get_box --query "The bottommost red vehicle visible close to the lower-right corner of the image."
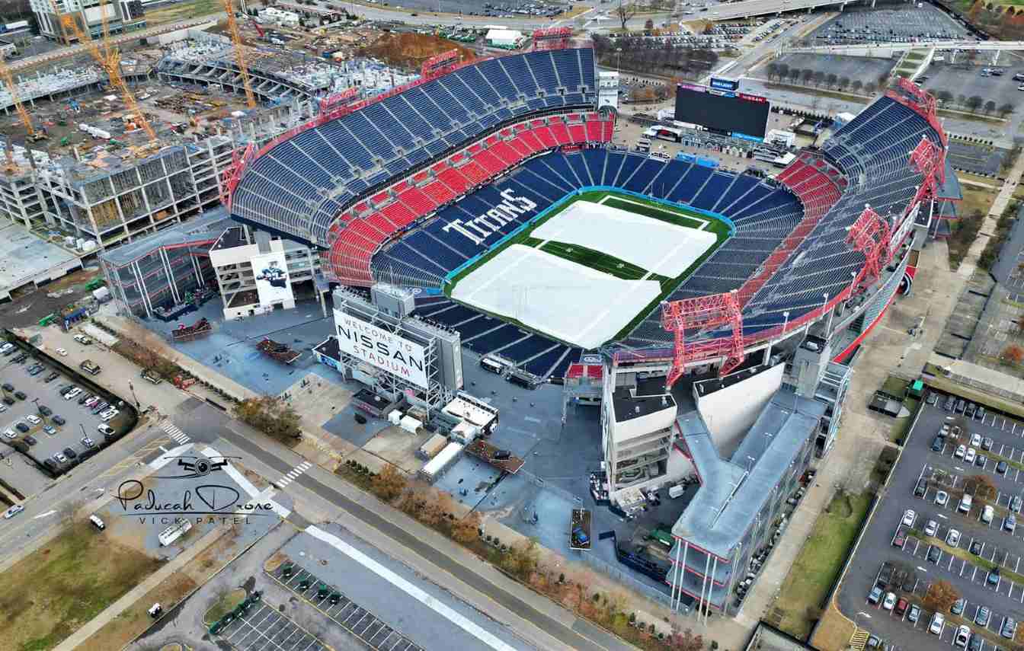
[896,597,908,613]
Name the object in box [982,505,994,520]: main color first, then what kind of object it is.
white vehicle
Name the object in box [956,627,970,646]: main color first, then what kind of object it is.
white car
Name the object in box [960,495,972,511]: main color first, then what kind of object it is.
white vehicle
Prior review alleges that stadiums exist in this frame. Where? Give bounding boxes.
[220,39,949,414]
